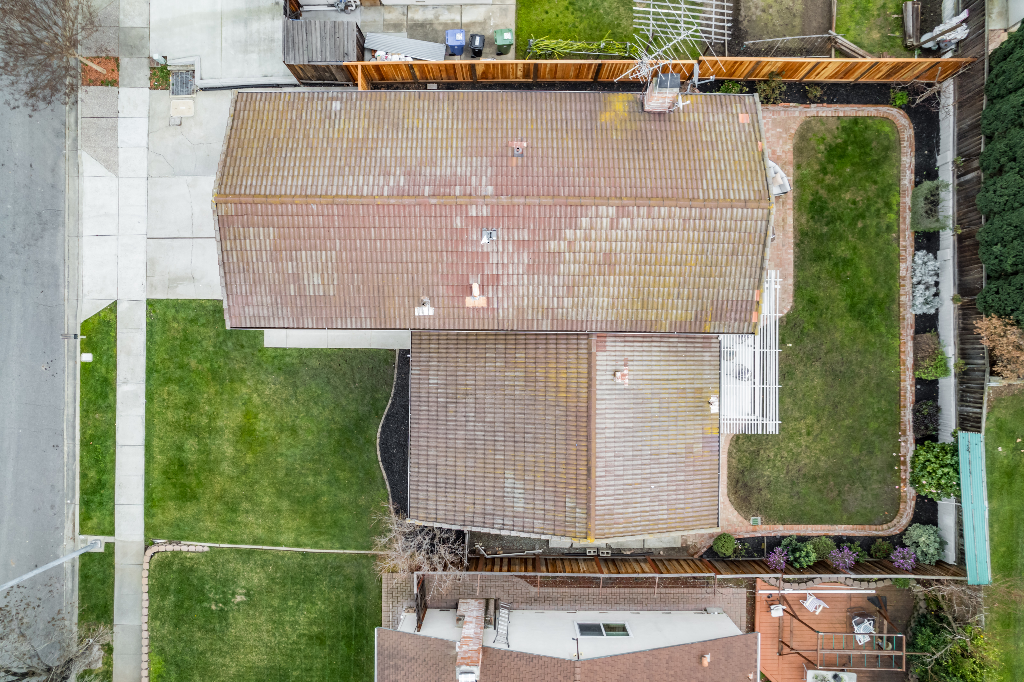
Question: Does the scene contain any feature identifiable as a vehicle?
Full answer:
No, there appears to be no vehicle in this shot.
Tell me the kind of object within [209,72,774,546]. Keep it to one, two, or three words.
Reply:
house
